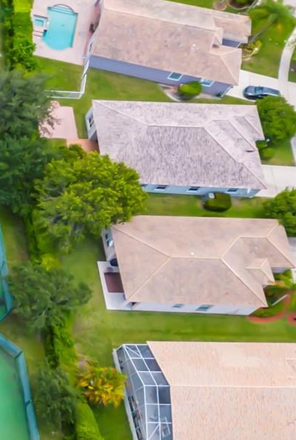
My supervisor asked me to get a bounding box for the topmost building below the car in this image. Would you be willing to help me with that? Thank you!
[88,99,267,198]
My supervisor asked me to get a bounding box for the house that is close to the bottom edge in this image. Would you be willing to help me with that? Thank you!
[145,341,296,440]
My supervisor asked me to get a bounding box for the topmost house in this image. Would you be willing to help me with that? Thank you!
[87,0,252,96]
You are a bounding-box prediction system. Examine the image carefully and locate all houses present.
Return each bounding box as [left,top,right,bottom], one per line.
[88,99,267,198]
[87,0,252,96]
[145,341,296,440]
[105,218,296,315]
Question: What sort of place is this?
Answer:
residential area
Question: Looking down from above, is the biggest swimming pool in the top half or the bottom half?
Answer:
top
